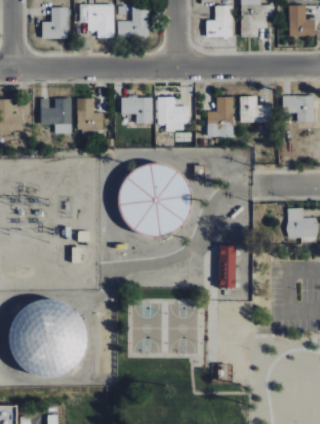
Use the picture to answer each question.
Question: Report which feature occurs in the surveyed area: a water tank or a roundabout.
water tank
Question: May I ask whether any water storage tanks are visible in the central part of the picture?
Yes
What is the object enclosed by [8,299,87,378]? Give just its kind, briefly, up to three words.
water tank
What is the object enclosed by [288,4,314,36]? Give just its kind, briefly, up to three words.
house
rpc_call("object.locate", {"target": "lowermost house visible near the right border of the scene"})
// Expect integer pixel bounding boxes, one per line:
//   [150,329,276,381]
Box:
[287,208,318,242]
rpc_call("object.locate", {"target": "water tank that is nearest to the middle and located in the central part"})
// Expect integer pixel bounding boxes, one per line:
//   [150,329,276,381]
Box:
[118,162,192,240]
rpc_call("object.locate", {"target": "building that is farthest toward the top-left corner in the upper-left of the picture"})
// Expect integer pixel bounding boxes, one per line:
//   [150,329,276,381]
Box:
[42,6,68,38]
